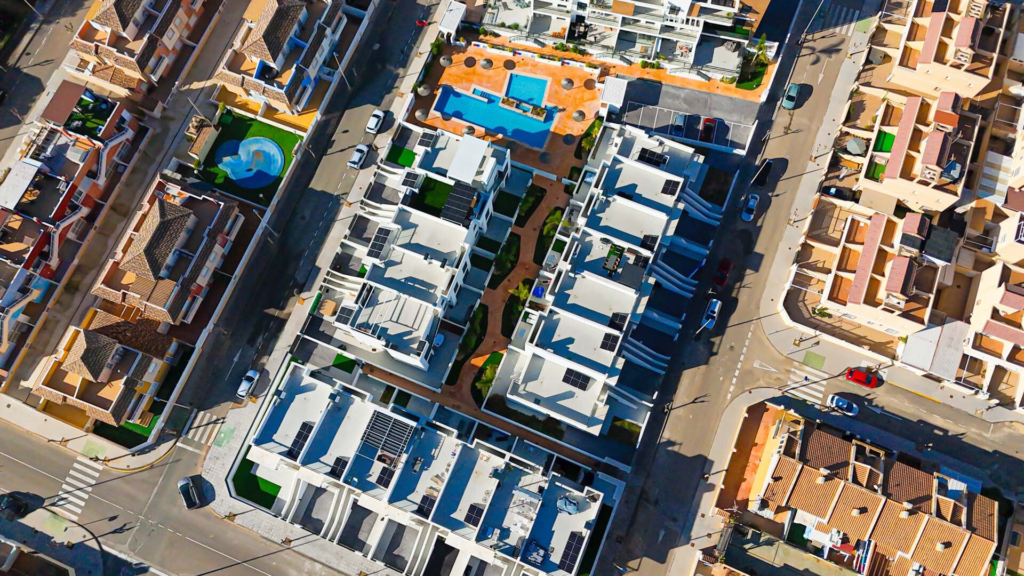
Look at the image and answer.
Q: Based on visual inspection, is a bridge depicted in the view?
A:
No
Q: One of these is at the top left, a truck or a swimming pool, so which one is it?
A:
swimming pool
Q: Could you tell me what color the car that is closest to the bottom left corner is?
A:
black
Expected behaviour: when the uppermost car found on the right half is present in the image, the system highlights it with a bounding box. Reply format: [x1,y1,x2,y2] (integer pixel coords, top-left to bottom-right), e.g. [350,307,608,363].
[782,83,800,111]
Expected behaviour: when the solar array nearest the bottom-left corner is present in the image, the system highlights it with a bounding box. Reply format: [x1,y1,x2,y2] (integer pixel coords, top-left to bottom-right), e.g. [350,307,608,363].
[282,430,307,462]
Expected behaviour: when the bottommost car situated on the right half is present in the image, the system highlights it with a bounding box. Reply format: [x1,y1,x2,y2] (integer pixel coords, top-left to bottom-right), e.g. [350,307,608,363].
[825,392,860,417]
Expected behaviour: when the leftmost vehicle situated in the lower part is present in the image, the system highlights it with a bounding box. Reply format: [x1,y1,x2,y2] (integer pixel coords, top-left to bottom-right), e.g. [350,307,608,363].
[0,498,30,519]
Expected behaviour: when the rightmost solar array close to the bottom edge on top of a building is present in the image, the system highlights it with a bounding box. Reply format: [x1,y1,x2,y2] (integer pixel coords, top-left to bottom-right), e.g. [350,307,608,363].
[552,528,585,576]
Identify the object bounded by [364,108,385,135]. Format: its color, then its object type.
white car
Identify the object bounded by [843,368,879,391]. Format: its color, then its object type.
red car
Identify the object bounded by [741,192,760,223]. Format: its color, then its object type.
blue car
